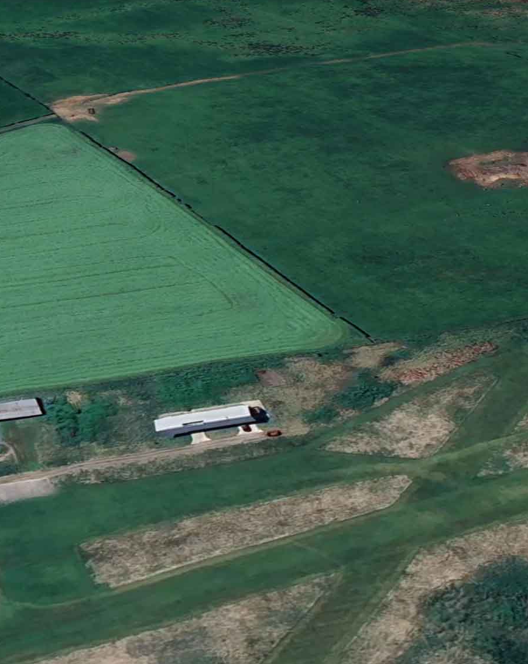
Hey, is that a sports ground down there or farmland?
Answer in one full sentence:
It's farmland.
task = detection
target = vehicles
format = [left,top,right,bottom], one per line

[243,423,251,431]
[267,429,281,434]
